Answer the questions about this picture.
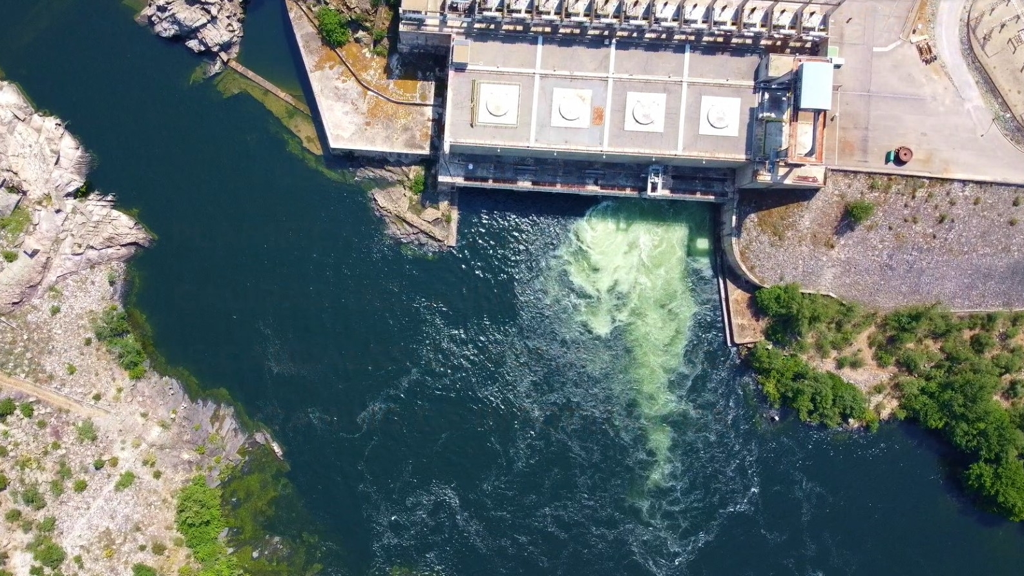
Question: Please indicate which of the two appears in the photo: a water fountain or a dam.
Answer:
dam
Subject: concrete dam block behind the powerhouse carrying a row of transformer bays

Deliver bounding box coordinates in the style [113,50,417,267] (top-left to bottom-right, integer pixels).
[399,0,832,61]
